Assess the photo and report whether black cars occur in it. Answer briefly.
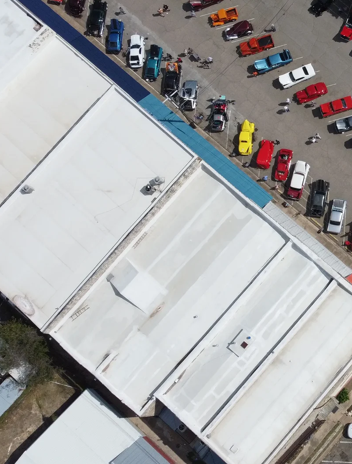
Yes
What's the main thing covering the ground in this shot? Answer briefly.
buildings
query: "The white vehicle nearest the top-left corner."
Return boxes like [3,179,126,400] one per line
[121,34,149,68]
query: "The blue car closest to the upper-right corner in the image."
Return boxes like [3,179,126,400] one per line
[253,50,294,73]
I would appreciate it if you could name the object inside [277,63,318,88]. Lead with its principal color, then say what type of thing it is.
white car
